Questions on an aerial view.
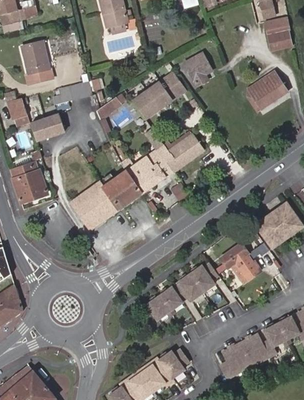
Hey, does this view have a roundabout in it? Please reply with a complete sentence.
Yes, there is a roundabout in the image.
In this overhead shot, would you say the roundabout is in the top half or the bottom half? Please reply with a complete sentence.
Seen from above, the roundabout lies in the bottom half of the view.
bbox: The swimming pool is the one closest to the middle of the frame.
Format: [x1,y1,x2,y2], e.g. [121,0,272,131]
[110,110,134,128]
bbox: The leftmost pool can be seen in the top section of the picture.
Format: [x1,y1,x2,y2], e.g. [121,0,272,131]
[16,130,32,150]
